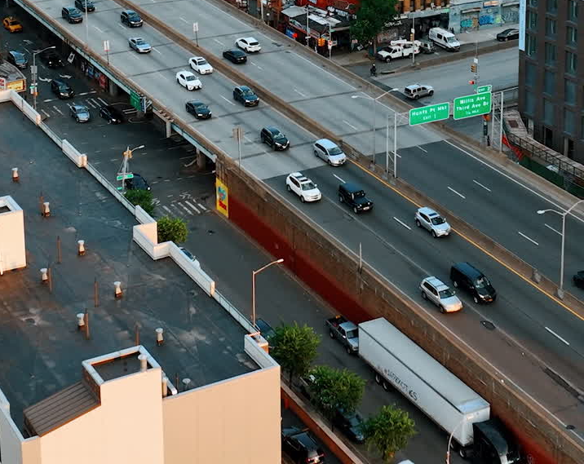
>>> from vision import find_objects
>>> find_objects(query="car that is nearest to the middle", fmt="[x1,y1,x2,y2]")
[285,171,323,201]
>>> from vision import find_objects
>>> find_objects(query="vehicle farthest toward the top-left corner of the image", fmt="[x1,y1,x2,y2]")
[3,17,22,32]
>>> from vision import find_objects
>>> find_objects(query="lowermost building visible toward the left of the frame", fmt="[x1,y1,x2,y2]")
[0,90,280,464]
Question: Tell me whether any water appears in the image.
No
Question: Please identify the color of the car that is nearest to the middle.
white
